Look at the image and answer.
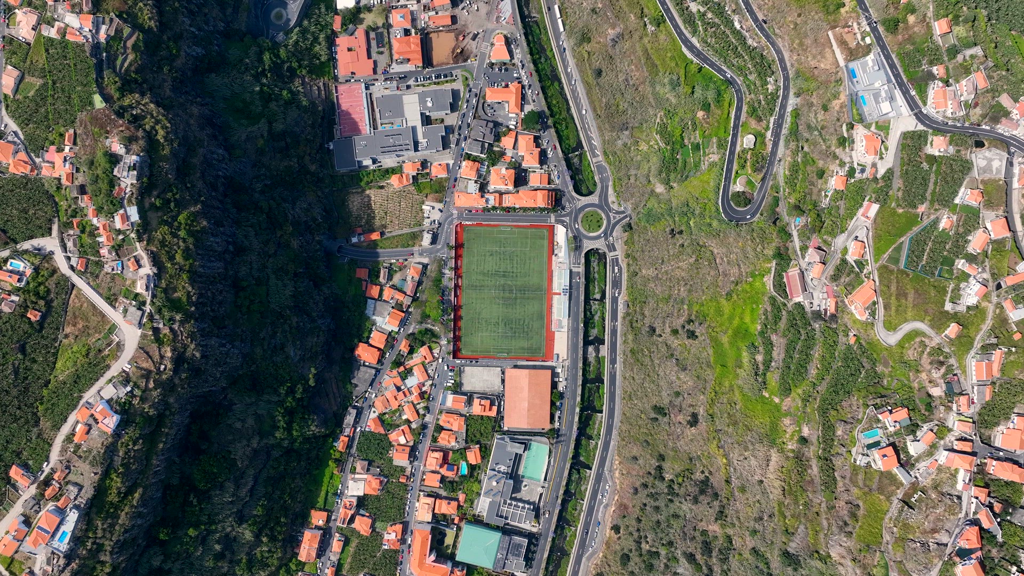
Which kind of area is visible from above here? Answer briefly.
residential area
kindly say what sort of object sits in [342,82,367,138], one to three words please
basketball court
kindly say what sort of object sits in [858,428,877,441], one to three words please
swimming pool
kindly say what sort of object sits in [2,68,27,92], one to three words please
house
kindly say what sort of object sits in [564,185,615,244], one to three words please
roundabout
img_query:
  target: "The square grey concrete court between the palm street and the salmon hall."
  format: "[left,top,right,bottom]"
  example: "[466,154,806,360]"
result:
[460,367,501,391]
